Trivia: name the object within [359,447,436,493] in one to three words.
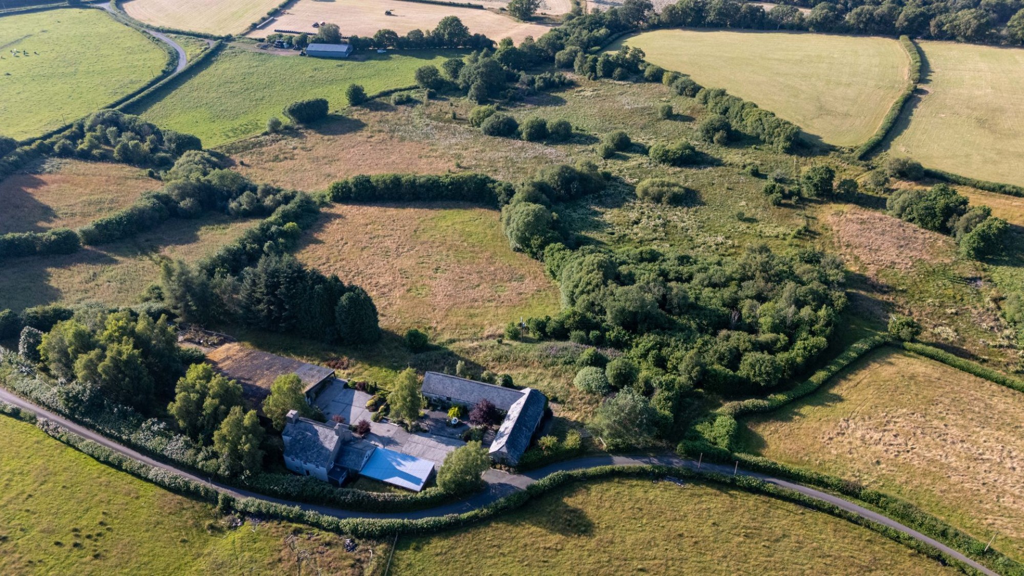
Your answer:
building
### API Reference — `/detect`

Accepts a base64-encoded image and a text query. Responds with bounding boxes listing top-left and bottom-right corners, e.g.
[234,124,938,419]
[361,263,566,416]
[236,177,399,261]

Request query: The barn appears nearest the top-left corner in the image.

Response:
[305,44,351,57]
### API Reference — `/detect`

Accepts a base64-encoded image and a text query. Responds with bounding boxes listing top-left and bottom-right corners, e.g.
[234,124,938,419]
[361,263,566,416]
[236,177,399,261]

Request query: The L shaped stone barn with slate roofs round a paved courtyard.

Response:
[422,372,549,470]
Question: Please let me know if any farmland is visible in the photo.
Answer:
Yes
